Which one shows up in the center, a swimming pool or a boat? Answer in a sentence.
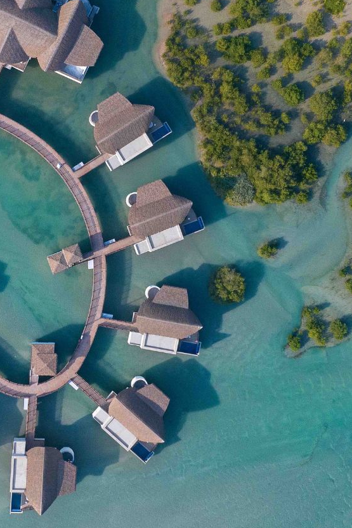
The one visible in the center is a swimming pool.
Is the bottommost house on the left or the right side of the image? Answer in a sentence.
The bottommost house is on the left side of the image.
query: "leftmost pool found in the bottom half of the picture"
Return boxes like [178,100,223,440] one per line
[11,490,25,511]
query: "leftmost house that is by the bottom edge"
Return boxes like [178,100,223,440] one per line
[10,434,76,514]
